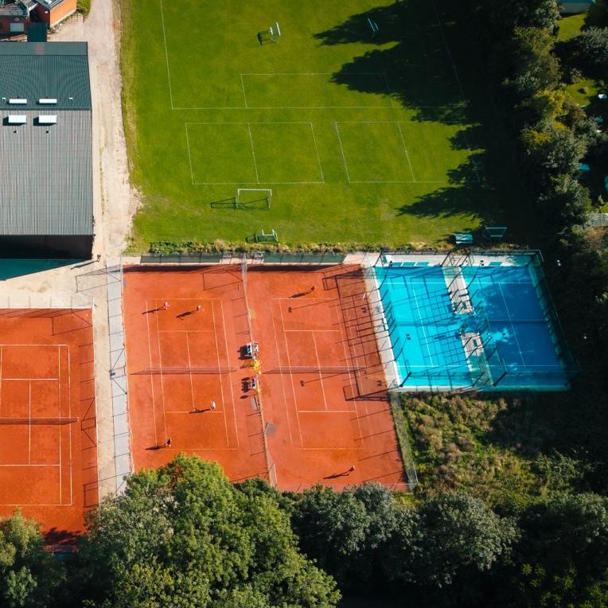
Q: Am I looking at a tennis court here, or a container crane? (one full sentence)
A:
Looking from above, you can make out a tennis court.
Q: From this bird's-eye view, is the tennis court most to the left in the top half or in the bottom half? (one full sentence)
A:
The tennis court most to the left is in the bottom half of the image.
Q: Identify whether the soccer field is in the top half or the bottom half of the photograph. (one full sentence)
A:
You can find the soccer field in the top half.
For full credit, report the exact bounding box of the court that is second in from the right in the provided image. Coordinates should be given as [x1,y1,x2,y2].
[374,251,486,387]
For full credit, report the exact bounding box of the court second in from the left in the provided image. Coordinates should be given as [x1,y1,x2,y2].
[124,265,271,486]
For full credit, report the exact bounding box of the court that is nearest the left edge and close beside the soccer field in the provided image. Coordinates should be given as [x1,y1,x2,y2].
[0,309,98,556]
